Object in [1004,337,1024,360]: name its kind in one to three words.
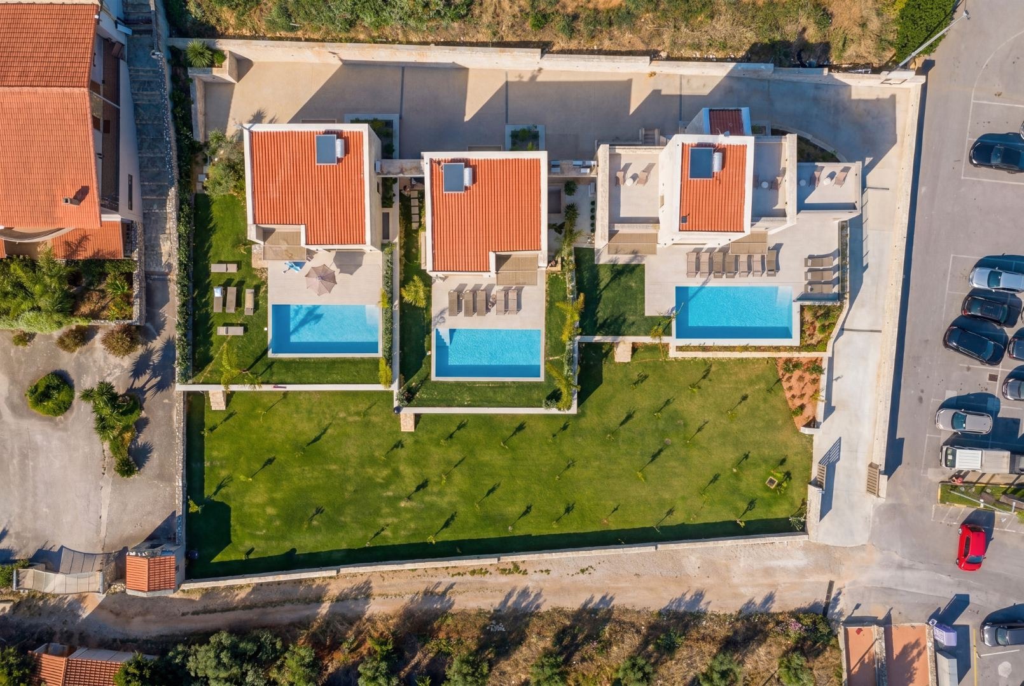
car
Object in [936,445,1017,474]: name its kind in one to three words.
vehicle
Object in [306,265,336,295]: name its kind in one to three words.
umbrella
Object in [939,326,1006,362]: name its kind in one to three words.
car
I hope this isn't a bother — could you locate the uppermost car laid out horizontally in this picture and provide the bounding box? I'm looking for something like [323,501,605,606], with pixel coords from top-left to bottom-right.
[965,142,1024,173]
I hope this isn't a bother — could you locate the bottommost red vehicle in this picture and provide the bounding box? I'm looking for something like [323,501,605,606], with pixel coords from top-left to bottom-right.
[956,524,986,569]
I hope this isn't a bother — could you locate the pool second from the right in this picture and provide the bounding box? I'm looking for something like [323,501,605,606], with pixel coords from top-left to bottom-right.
[434,327,543,380]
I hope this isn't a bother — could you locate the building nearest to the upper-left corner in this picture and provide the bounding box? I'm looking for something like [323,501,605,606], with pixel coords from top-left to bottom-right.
[0,0,146,258]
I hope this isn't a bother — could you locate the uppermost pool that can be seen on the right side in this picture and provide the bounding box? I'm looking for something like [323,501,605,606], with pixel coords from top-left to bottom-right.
[674,284,794,340]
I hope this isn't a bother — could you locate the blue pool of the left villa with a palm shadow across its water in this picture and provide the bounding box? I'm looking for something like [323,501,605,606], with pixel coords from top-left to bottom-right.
[270,303,381,355]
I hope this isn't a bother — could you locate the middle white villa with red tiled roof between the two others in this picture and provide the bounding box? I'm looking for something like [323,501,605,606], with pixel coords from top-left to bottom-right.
[422,151,547,279]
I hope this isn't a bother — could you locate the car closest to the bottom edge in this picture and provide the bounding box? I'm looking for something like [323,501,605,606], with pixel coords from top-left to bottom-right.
[976,619,1024,650]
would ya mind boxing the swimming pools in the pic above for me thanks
[270,303,381,355]
[434,327,543,380]
[674,284,794,340]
